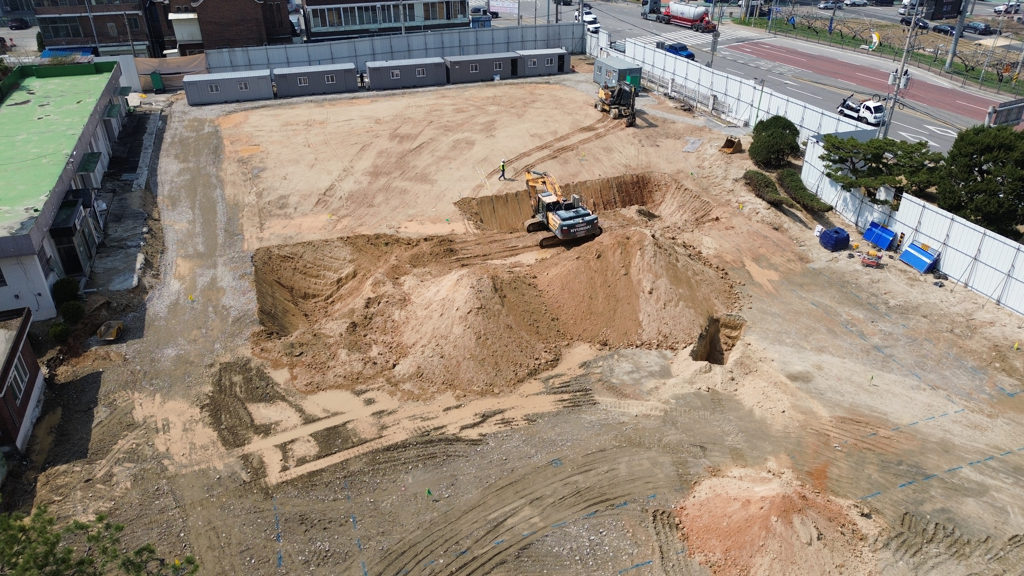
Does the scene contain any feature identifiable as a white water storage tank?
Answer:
No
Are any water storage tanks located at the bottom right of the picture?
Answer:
No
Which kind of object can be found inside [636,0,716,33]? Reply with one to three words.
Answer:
truck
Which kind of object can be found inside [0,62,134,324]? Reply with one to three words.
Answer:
building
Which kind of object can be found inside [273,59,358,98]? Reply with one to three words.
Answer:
building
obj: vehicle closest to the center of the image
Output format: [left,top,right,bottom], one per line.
[521,166,601,248]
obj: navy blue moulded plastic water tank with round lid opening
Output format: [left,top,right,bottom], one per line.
[821,227,853,253]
